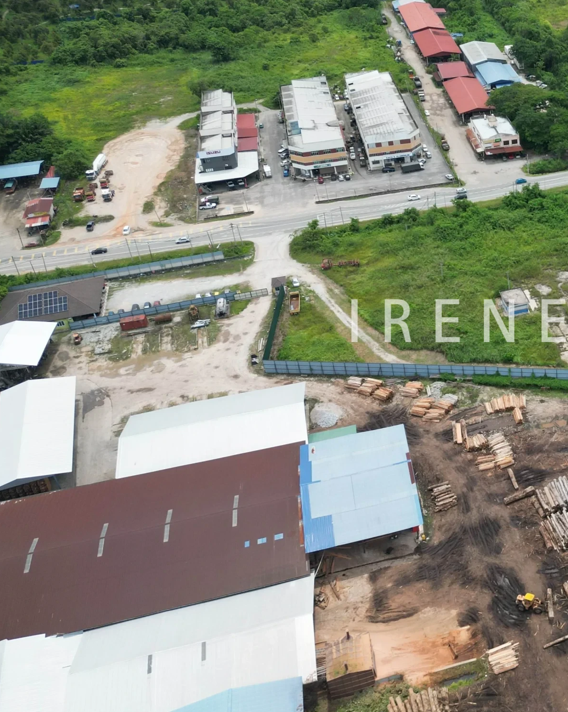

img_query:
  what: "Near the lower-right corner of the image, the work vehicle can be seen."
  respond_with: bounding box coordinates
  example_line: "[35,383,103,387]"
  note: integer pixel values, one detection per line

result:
[512,589,558,613]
